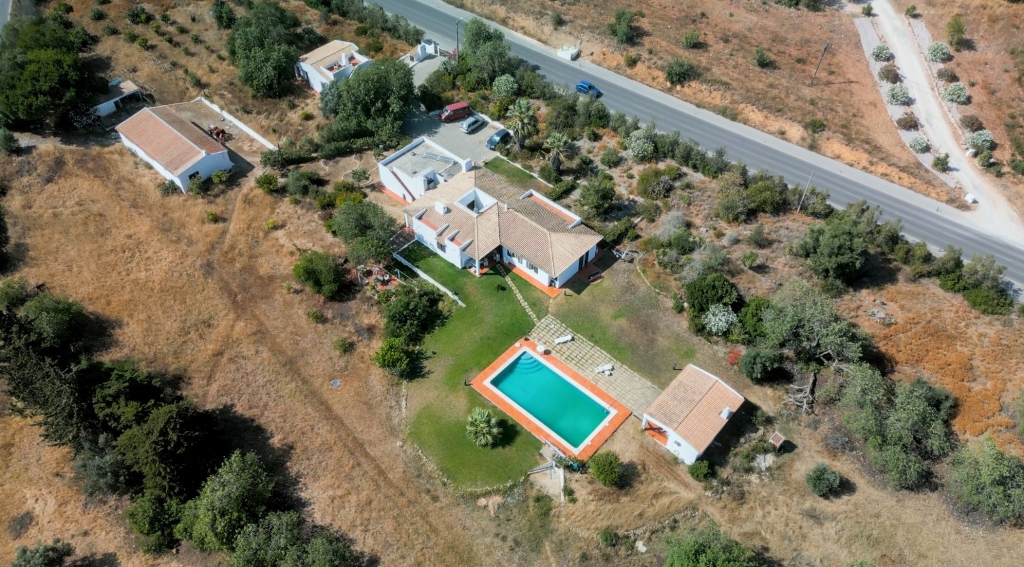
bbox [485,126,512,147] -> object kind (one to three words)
car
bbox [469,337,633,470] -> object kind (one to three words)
swimming pool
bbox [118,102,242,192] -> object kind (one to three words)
barn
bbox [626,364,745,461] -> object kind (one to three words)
building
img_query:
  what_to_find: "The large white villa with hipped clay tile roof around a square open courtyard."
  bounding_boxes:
[375,137,606,299]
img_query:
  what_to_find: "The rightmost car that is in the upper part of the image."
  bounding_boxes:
[576,77,601,94]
